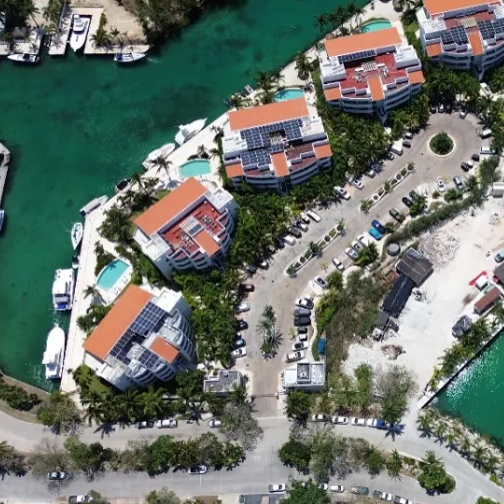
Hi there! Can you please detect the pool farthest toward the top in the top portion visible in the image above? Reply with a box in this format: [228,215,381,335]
[360,19,393,33]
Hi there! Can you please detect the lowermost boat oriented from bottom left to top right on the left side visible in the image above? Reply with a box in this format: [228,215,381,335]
[77,197,109,218]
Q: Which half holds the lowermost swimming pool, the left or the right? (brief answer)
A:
left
